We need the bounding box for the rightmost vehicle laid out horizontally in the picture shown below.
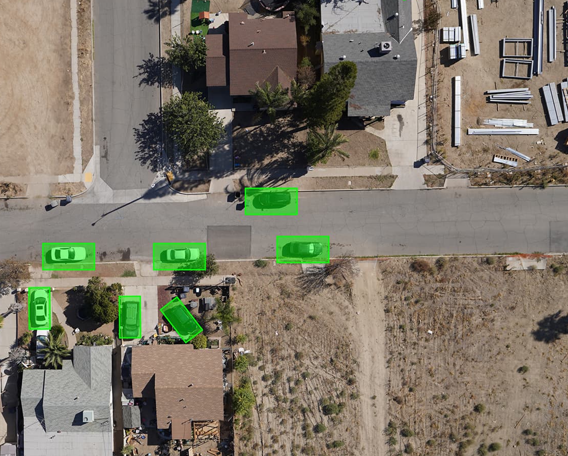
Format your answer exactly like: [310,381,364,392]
[286,241,321,257]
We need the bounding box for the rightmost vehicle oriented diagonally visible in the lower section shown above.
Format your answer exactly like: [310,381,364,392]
[167,302,197,338]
